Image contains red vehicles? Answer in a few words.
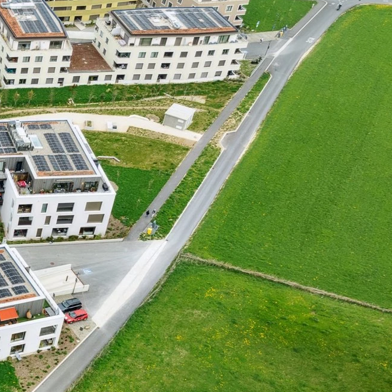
Yes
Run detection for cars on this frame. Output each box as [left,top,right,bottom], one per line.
[56,294,85,313]
[64,307,91,323]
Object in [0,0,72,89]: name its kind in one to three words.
building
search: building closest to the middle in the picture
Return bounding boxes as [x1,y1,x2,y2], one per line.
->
[162,103,197,131]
